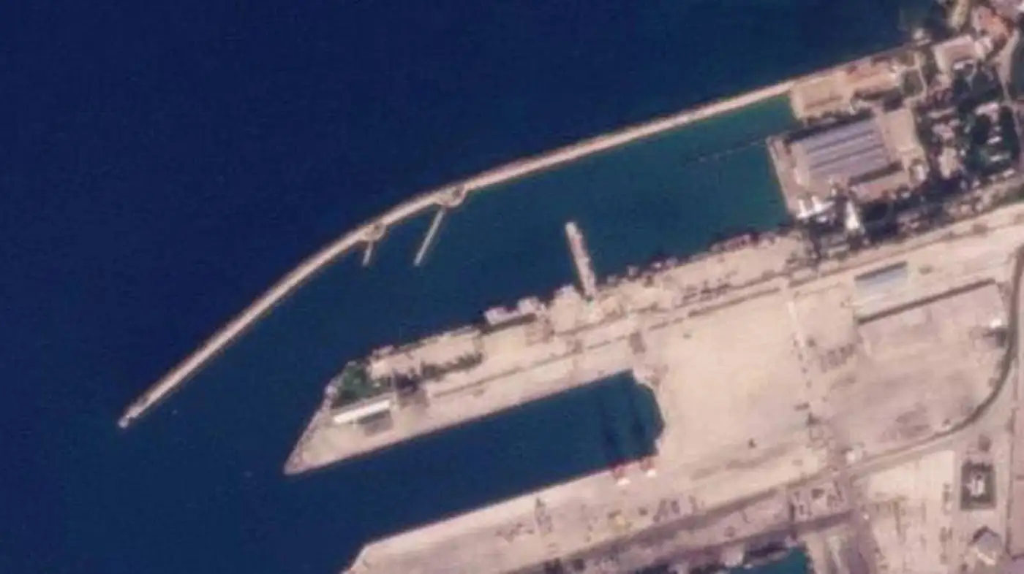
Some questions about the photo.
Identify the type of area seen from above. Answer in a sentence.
The picture captures a port.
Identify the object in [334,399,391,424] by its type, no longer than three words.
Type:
shed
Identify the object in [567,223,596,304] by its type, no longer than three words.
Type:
pier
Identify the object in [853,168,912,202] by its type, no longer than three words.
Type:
building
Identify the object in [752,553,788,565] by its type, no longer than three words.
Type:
ship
